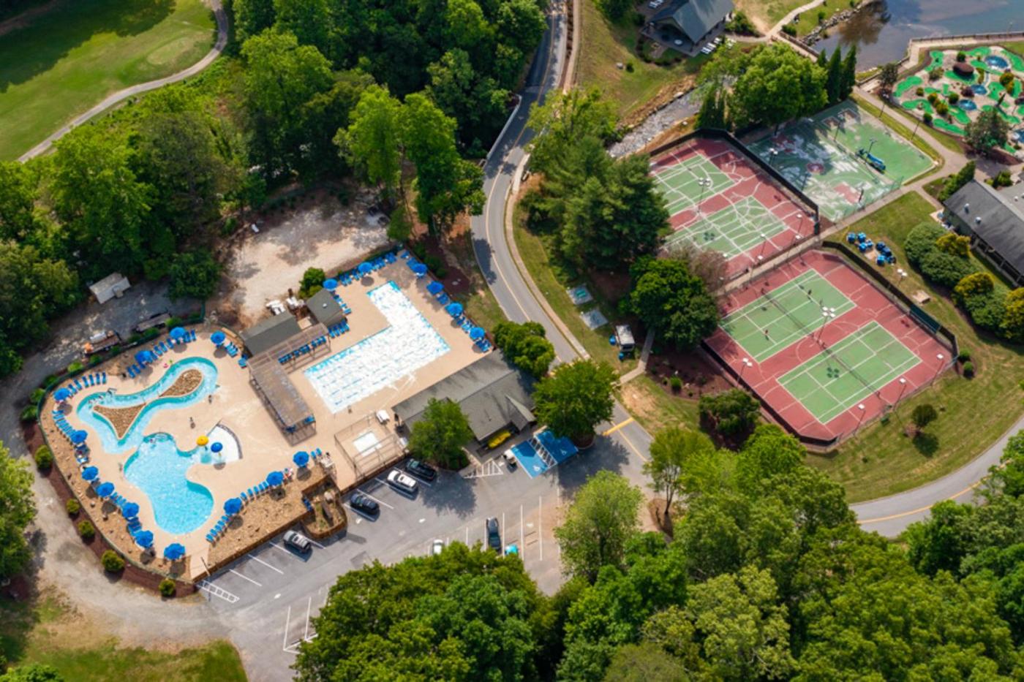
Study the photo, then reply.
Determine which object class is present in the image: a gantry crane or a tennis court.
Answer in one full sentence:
Visible in the photo is a tennis court.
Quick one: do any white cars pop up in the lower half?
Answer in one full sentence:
Yes, I can see a white car in the lower half.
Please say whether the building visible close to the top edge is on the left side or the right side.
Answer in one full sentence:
The building visible close to the top edge is on the right side of the image.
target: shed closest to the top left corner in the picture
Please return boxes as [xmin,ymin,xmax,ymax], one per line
[86,271,132,309]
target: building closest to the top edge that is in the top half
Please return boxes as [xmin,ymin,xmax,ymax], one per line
[646,0,743,62]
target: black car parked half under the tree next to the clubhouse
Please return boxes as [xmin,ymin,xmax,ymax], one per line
[405,459,436,481]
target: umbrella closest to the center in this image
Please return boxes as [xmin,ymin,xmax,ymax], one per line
[470,328,485,342]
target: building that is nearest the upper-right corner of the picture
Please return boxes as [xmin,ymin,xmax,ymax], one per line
[946,182,1024,277]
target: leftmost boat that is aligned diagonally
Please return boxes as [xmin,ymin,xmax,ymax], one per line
[480,429,512,451]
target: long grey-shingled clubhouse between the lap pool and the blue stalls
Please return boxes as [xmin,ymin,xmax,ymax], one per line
[392,348,539,438]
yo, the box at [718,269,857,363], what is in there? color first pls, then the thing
green tennis court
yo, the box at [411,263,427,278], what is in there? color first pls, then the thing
blue umbrella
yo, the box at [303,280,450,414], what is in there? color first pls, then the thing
white swimming pool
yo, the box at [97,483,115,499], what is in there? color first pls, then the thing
blue umbrella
